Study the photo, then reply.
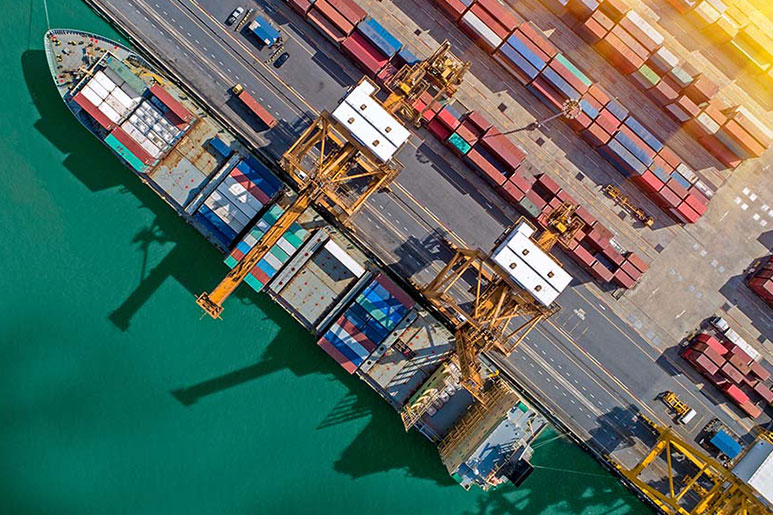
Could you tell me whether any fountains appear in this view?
No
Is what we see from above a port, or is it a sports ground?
port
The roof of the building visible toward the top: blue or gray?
blue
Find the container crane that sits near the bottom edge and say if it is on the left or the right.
right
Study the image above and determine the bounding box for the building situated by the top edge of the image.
[248,15,281,50]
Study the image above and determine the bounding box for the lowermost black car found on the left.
[276,54,291,69]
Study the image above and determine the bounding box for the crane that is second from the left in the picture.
[410,205,593,406]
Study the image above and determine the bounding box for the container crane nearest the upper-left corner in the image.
[189,41,476,325]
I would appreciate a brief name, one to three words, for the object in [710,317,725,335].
vehicle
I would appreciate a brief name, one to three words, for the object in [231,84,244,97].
vehicle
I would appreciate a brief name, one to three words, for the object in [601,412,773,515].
container crane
